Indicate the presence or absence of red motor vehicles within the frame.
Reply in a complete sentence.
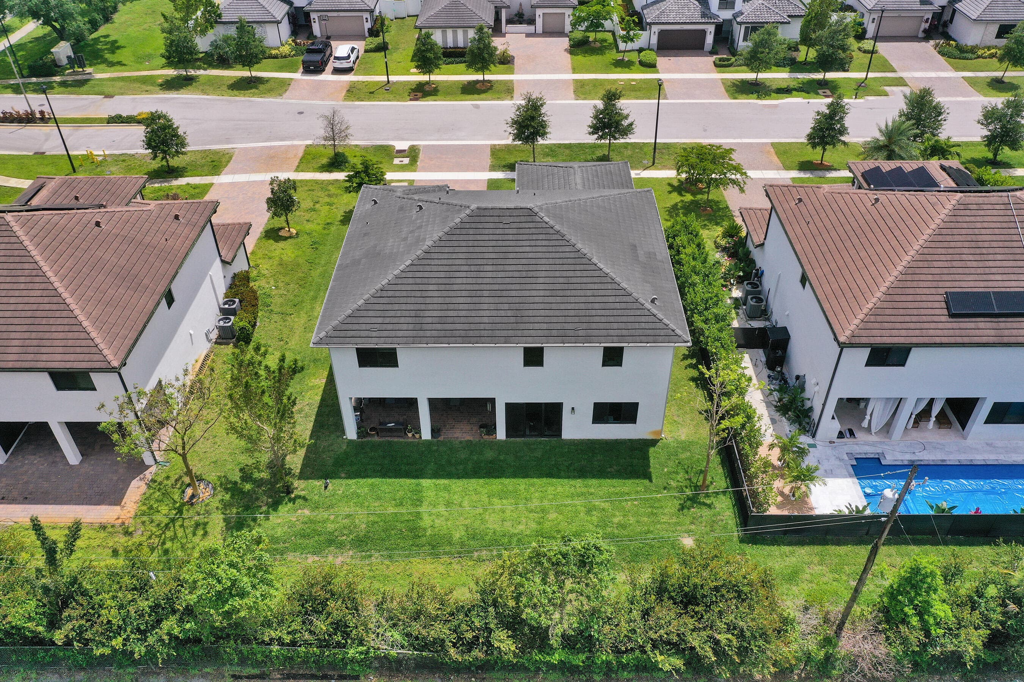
No, there appears to be no red motor vehicle in this shot.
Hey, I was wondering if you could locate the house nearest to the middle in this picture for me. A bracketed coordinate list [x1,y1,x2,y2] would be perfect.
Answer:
[310,160,693,440]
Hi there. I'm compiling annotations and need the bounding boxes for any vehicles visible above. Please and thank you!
[301,35,334,65]
[333,41,361,66]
